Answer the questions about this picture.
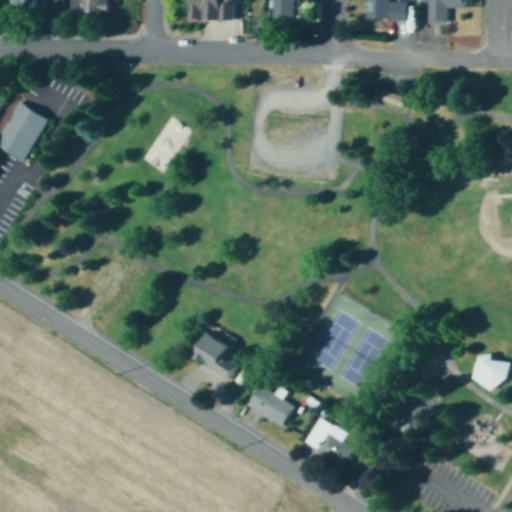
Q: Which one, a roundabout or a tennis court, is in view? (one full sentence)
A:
The image shows a tennis court.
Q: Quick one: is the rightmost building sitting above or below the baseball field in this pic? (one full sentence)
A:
In the image, the rightmost building sits below the baseball field.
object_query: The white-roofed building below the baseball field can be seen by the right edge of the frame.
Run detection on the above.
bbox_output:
[473,354,512,392]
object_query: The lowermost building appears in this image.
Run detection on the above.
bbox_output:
[306,418,350,460]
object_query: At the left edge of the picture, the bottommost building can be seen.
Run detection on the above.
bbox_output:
[0,103,47,159]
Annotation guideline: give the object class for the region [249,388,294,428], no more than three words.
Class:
house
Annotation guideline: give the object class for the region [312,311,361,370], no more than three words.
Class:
tennis court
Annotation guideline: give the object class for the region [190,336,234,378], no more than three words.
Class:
house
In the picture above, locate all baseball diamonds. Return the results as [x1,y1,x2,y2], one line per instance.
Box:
[480,190,512,256]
